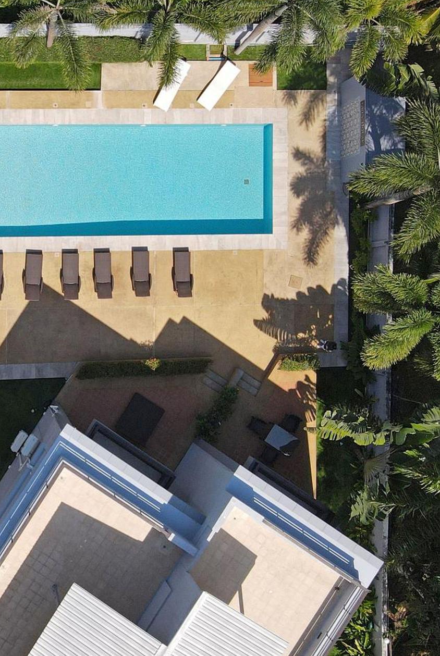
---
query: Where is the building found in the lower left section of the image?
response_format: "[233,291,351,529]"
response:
[0,400,205,656]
